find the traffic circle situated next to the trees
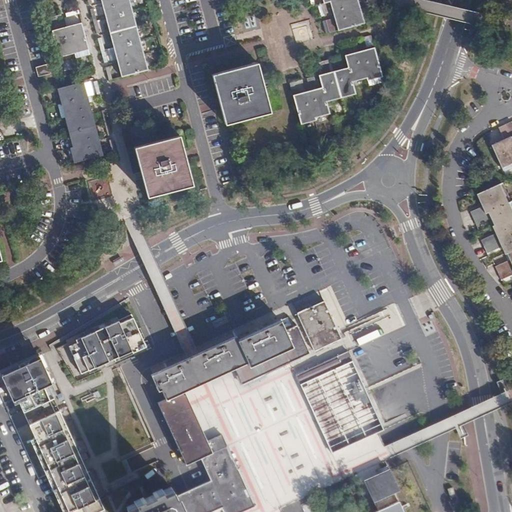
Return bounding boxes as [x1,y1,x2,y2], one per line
[346,148,417,217]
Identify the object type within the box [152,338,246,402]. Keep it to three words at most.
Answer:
building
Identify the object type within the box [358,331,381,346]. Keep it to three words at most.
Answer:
vehicle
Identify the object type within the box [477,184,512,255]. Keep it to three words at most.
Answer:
house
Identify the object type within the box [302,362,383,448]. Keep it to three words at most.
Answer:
building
